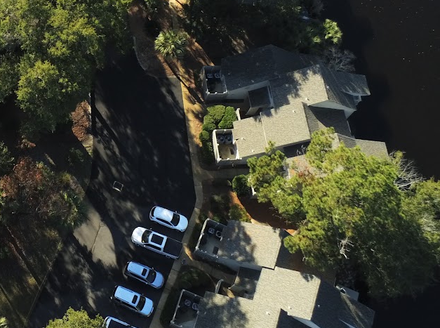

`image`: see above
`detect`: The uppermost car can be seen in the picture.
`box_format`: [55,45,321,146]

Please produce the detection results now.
[147,205,190,234]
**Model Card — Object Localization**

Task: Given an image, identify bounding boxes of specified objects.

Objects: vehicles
[109,285,155,317]
[129,226,183,260]
[101,315,138,328]
[147,205,190,234]
[122,258,166,290]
